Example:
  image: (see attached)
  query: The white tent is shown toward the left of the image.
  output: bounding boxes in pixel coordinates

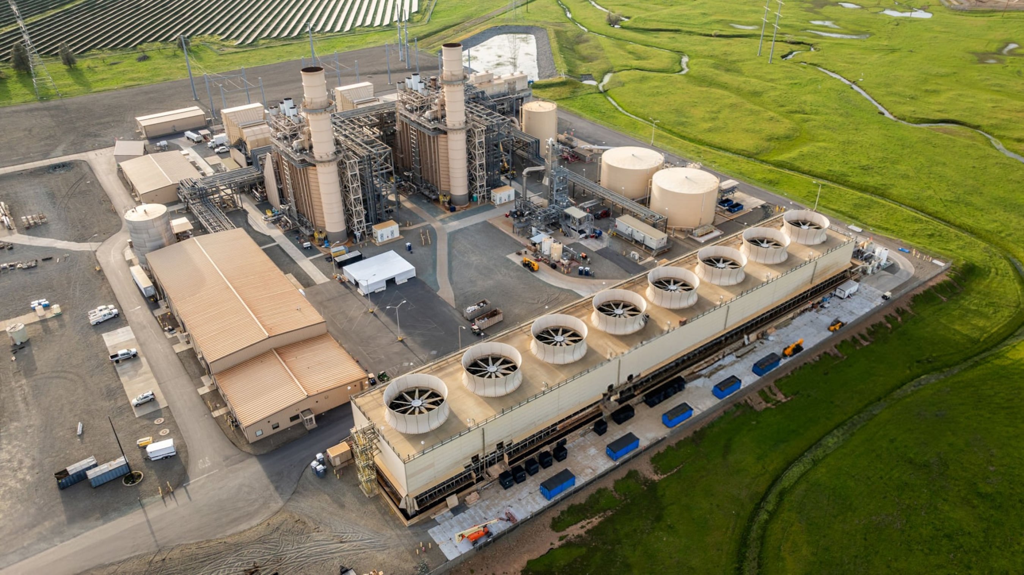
[343,251,416,299]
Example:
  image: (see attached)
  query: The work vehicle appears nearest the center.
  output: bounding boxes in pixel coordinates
[519,255,540,270]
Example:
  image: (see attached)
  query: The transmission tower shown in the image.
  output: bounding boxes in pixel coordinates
[3,0,63,101]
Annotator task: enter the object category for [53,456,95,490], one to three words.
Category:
shipping container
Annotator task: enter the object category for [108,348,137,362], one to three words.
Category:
vehicle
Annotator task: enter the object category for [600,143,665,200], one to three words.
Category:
storage tank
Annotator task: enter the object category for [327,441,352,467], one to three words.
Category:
shed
